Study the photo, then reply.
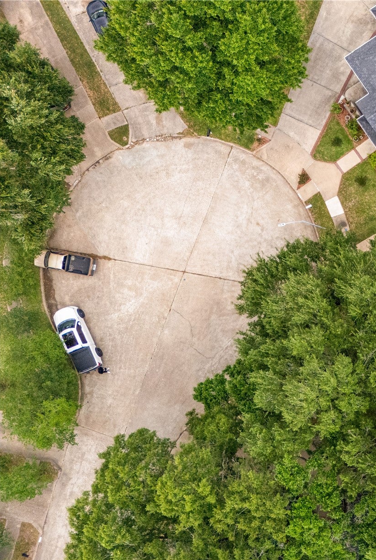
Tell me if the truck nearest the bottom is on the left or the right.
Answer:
left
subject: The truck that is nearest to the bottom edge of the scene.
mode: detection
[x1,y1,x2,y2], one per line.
[53,305,101,373]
